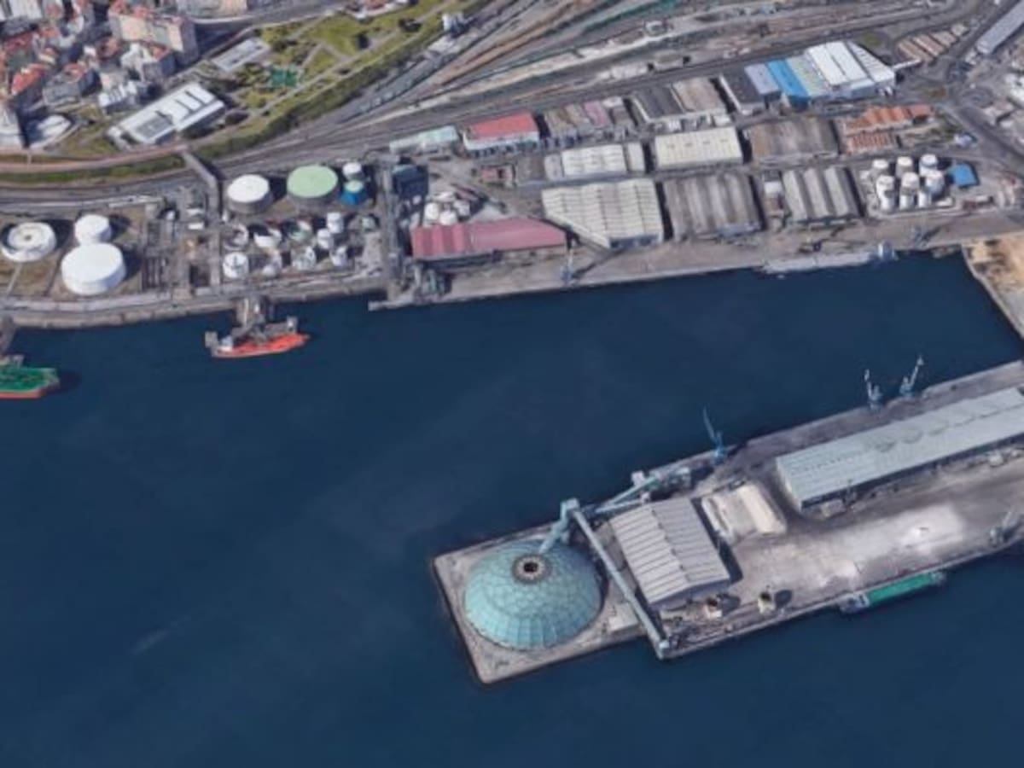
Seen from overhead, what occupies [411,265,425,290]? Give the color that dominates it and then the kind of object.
gray work vehicle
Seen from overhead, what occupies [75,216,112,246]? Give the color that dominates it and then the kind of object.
white storage tank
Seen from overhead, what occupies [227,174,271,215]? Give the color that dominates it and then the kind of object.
white storage tank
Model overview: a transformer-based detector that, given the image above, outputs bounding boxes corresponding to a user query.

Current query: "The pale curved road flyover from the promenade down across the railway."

[177,143,219,205]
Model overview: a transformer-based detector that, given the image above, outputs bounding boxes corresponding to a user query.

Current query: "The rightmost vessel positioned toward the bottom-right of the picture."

[839,571,947,617]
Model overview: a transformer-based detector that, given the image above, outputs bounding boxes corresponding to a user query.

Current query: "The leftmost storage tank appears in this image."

[1,221,59,268]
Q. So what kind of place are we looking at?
port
